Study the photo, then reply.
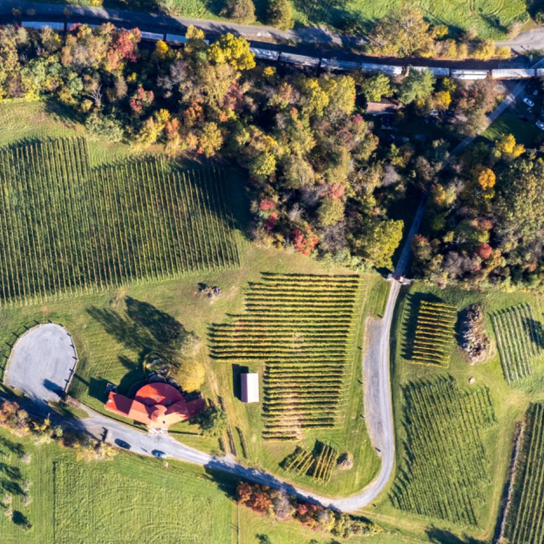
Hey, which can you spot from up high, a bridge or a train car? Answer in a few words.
train car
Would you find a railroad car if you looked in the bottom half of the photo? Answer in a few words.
No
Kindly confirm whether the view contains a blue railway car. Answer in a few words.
Yes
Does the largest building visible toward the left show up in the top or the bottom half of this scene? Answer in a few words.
bottom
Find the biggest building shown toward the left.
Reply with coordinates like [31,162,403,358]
[106,373,205,436]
